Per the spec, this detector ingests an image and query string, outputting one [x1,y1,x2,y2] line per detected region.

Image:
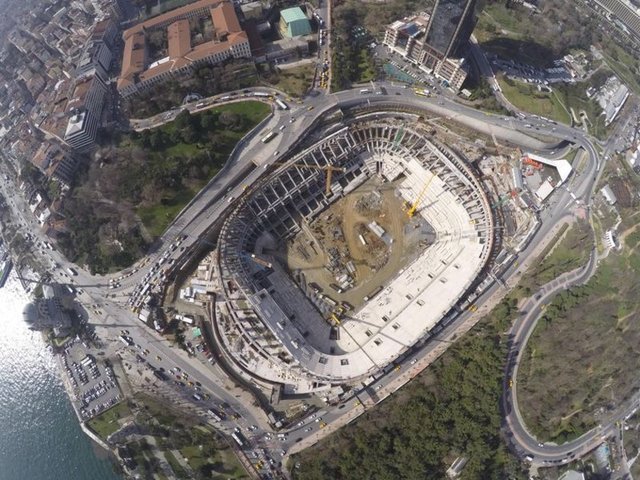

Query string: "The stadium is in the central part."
[211,120,506,406]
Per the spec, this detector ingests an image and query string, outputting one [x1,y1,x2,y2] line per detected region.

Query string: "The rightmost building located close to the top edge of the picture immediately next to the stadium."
[384,0,488,88]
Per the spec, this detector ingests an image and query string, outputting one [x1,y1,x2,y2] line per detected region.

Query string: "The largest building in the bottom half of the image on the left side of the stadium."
[21,277,84,343]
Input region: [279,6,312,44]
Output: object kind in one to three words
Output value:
building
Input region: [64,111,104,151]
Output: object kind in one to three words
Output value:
building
